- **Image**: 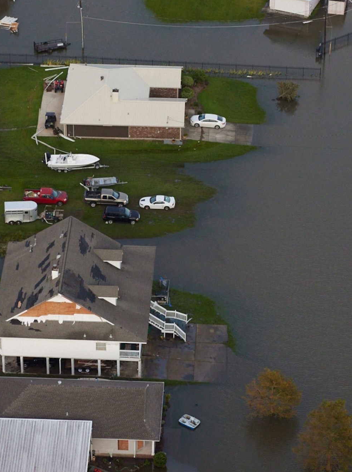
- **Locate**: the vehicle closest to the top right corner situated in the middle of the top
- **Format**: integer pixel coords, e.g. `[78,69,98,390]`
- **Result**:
[190,113,227,129]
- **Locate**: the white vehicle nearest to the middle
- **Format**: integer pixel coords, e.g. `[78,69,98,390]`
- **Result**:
[139,193,176,210]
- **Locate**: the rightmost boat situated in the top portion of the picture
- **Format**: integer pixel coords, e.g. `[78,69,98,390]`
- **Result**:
[76,174,117,189]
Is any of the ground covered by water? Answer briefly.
Yes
